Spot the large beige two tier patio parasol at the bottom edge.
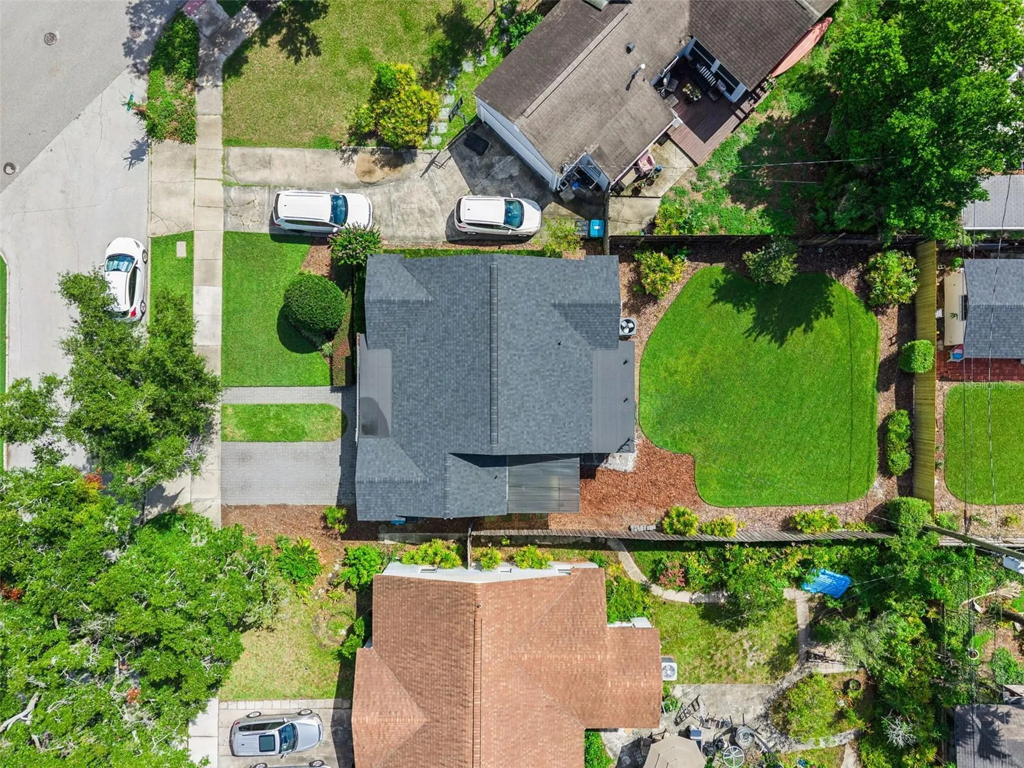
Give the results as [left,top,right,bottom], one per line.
[641,732,707,768]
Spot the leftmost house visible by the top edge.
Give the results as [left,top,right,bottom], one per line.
[476,0,837,192]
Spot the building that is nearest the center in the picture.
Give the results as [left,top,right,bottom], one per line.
[352,255,635,521]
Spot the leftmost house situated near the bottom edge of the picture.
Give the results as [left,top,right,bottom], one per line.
[347,563,664,768]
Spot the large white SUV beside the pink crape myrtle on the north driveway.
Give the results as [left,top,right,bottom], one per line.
[275,186,375,232]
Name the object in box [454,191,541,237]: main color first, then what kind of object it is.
white car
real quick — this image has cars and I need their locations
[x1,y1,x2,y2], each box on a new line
[454,191,541,237]
[275,186,375,232]
[230,712,324,763]
[98,238,148,322]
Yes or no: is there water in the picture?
No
